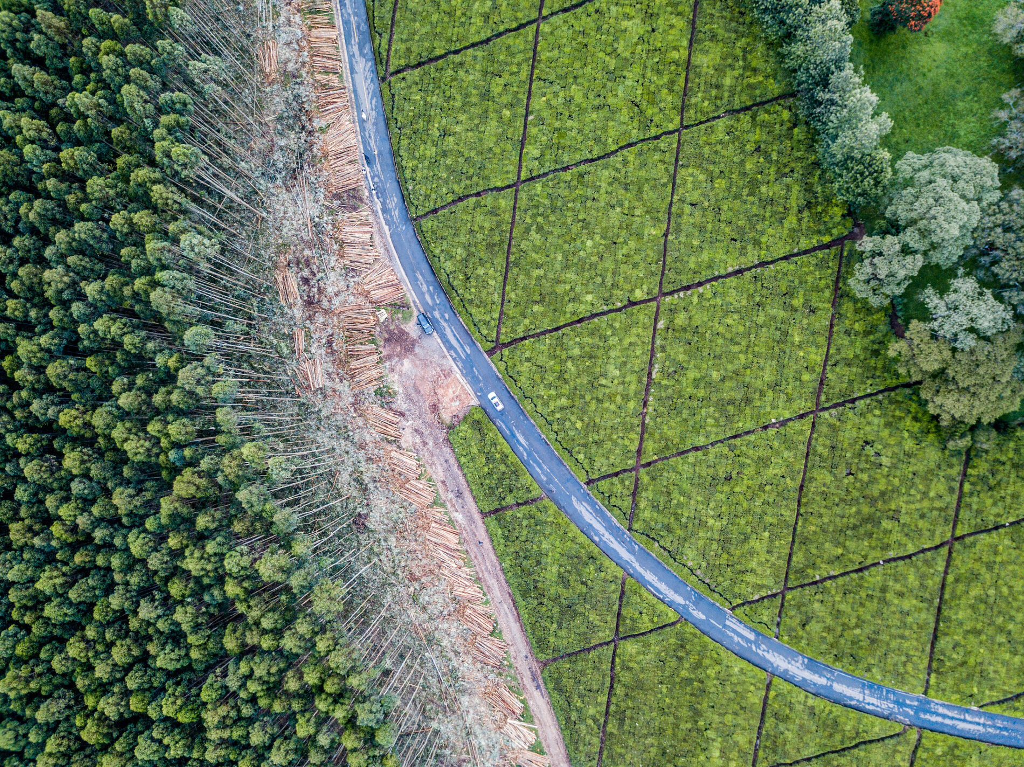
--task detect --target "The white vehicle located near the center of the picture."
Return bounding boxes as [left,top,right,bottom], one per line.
[488,392,504,411]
